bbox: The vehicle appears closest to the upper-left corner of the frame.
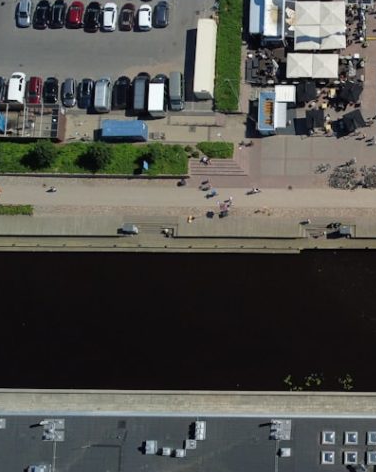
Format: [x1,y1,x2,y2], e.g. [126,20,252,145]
[17,0,33,30]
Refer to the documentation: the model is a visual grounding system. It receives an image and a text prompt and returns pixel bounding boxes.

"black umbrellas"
[341,107,368,130]
[338,83,359,104]
[296,83,317,104]
[305,109,325,129]
[331,117,357,139]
